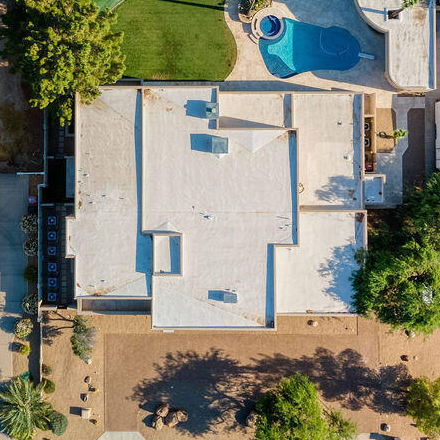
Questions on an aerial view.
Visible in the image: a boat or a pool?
pool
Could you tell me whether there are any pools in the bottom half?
No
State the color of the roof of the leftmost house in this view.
white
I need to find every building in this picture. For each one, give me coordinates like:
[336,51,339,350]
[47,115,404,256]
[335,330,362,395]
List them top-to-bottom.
[351,0,436,91]
[65,86,385,334]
